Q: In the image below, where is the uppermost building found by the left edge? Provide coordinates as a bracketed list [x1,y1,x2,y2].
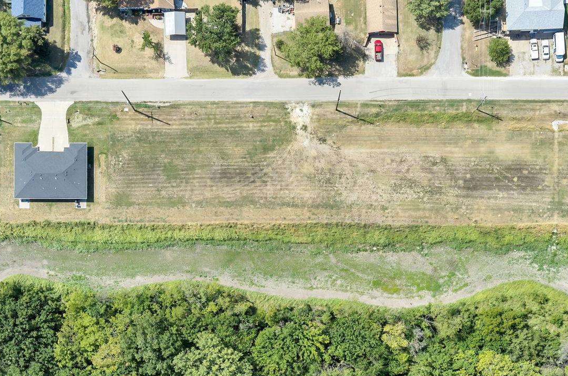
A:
[12,0,49,31]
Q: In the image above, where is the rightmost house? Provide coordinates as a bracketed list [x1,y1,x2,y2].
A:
[503,0,565,35]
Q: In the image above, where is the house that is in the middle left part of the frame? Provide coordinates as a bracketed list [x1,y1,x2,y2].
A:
[14,142,89,200]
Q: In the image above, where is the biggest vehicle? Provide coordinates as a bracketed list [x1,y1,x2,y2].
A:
[553,29,567,63]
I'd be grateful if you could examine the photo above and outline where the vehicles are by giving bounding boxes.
[553,29,567,63]
[529,39,540,62]
[540,40,550,61]
[373,39,384,64]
